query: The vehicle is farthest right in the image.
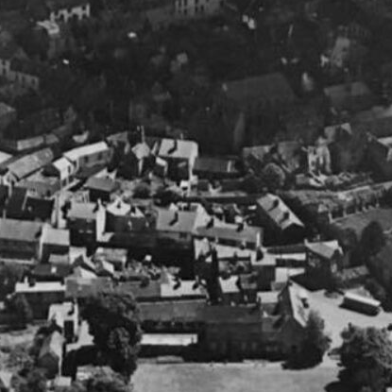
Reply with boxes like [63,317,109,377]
[343,286,383,311]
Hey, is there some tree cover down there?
Yes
